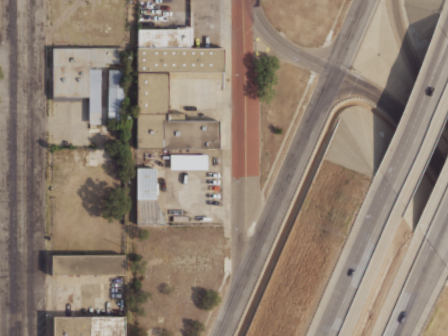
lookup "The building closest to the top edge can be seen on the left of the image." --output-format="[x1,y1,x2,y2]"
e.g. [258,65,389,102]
[138,28,194,48]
